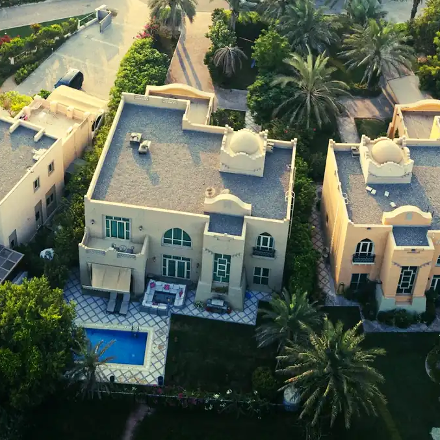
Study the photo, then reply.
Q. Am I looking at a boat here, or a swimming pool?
swimming pool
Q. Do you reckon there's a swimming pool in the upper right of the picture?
No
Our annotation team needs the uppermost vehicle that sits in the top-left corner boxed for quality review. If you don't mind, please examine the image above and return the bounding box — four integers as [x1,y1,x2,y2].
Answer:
[46,62,91,88]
